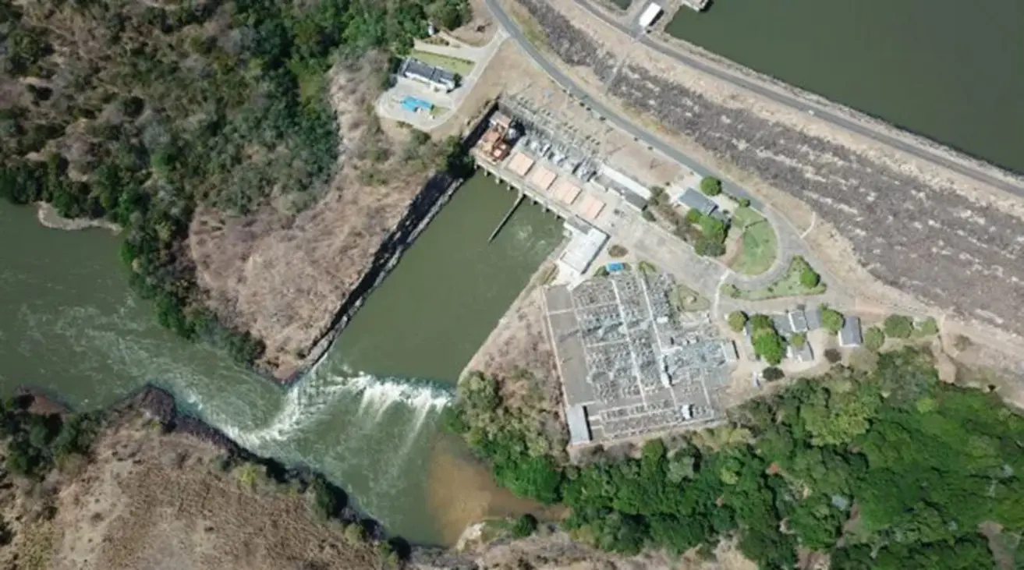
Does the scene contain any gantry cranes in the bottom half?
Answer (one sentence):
No, I can find no gantry crane in the bottom half.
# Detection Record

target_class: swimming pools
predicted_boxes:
[400,96,436,113]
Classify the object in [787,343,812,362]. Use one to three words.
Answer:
house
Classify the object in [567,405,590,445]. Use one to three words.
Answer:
house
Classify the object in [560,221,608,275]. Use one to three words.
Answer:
building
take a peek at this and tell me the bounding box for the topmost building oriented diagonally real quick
[636,1,662,31]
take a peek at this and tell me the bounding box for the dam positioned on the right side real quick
[524,0,1024,338]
